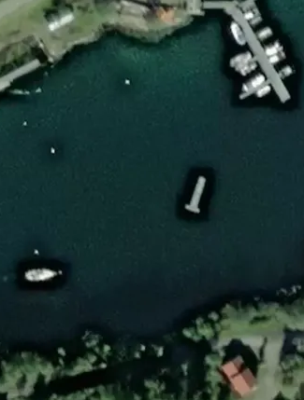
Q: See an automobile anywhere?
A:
No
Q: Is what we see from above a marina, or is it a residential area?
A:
marina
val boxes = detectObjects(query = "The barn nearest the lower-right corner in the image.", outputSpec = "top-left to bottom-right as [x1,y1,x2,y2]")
[221,356,261,397]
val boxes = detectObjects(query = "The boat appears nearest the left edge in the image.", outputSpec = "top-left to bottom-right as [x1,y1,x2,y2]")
[24,269,58,281]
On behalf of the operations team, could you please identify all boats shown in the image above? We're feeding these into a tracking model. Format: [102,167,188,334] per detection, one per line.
[244,74,266,90]
[257,85,271,96]
[231,49,250,63]
[242,63,256,73]
[244,12,254,21]
[268,54,283,64]
[234,58,250,70]
[279,68,292,77]
[232,23,246,46]
[258,28,272,39]
[250,17,262,25]
[265,44,281,57]
[24,269,58,281]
